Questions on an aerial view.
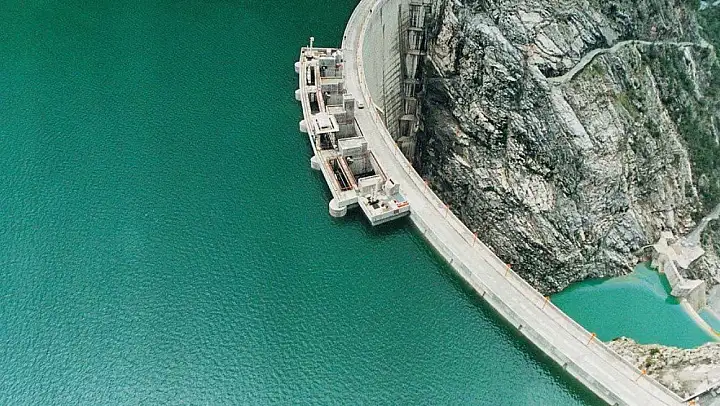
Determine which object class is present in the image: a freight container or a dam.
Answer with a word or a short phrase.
dam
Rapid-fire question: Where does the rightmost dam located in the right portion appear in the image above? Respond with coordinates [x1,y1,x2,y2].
[637,234,720,337]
